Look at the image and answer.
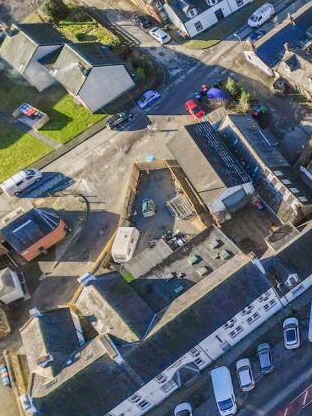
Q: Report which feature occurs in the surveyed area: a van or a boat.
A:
van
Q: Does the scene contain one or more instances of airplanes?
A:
No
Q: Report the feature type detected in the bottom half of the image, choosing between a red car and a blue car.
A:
blue car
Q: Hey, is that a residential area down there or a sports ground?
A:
residential area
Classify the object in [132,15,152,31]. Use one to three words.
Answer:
car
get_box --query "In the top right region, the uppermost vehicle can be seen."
[246,0,277,29]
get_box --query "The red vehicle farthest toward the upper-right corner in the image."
[182,97,206,121]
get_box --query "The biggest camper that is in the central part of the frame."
[107,220,141,265]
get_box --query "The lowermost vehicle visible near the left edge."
[0,167,43,196]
